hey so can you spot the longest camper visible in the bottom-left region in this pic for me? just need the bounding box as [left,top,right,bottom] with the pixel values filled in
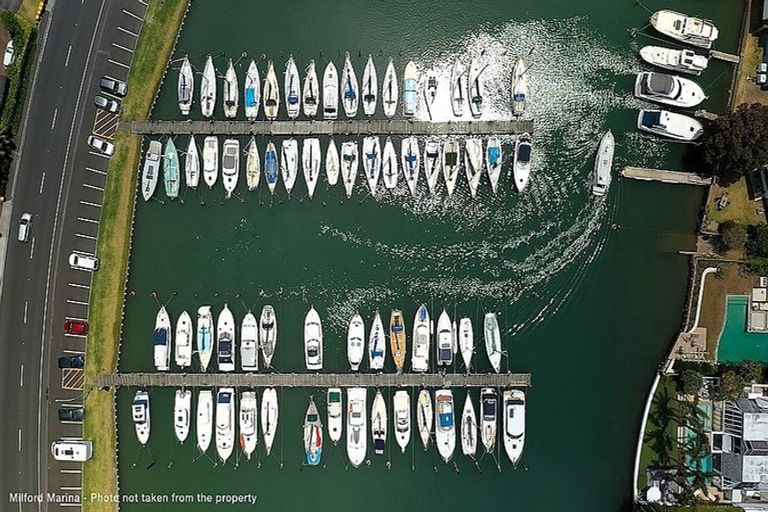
[49,442,97,461]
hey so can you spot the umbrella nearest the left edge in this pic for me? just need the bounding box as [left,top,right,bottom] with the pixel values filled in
[646,487,662,502]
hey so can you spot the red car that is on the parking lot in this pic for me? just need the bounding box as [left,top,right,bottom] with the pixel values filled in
[63,320,90,334]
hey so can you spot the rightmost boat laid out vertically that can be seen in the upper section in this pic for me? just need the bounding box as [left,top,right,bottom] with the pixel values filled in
[592,129,614,197]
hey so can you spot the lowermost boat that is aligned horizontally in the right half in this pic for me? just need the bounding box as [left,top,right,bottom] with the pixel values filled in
[634,112,706,140]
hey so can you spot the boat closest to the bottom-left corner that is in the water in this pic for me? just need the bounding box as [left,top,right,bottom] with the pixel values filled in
[132,389,152,464]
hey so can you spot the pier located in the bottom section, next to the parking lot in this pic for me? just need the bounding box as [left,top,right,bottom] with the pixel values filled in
[98,370,531,390]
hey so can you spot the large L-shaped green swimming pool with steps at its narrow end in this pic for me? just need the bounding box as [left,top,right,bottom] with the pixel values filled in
[716,296,768,364]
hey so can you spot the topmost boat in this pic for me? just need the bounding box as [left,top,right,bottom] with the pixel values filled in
[637,3,718,48]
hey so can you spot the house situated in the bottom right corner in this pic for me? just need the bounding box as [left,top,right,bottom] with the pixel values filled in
[706,383,768,512]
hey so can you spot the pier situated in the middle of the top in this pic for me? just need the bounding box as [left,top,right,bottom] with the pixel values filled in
[131,119,534,138]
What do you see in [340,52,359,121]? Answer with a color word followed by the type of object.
white boat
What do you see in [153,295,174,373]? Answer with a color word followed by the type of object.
white boat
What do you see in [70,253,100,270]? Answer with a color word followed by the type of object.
white car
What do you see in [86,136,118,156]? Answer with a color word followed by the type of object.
white car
